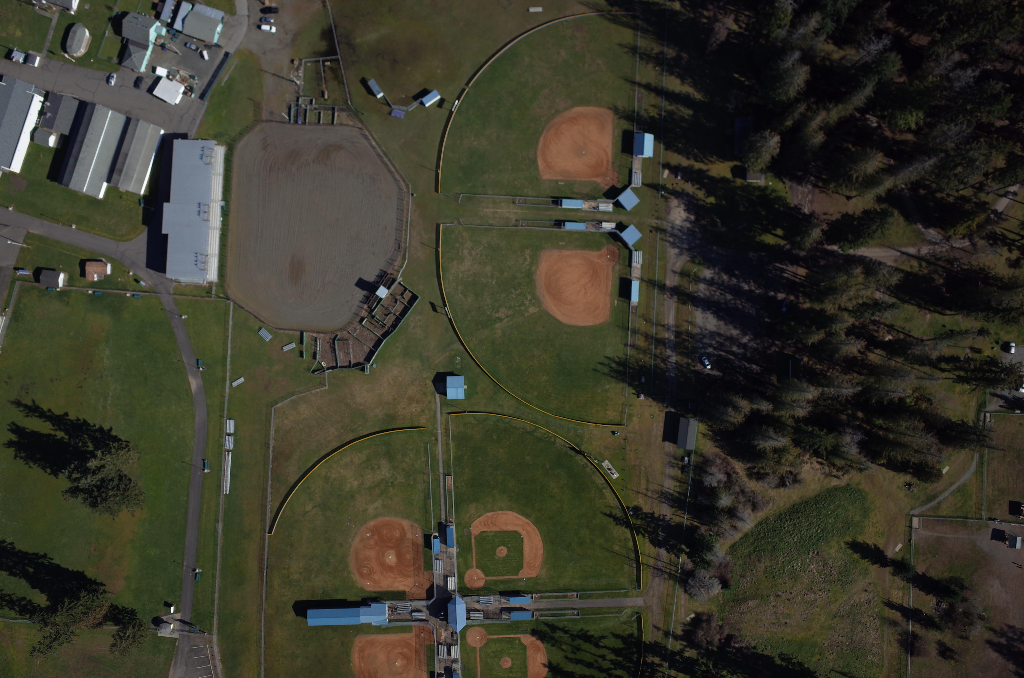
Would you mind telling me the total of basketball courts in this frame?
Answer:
none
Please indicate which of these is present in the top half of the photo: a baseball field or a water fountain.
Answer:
baseball field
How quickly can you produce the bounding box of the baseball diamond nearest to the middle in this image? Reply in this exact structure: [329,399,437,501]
[441,224,633,425]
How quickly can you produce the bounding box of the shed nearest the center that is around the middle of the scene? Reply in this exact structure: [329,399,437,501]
[447,376,465,399]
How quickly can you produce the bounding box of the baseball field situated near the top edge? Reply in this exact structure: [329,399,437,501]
[440,14,640,201]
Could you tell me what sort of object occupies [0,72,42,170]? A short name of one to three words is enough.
building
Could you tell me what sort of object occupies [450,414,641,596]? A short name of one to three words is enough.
baseball field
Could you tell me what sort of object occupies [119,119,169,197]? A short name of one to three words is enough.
barn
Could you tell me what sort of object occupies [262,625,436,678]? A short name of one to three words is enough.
baseball field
